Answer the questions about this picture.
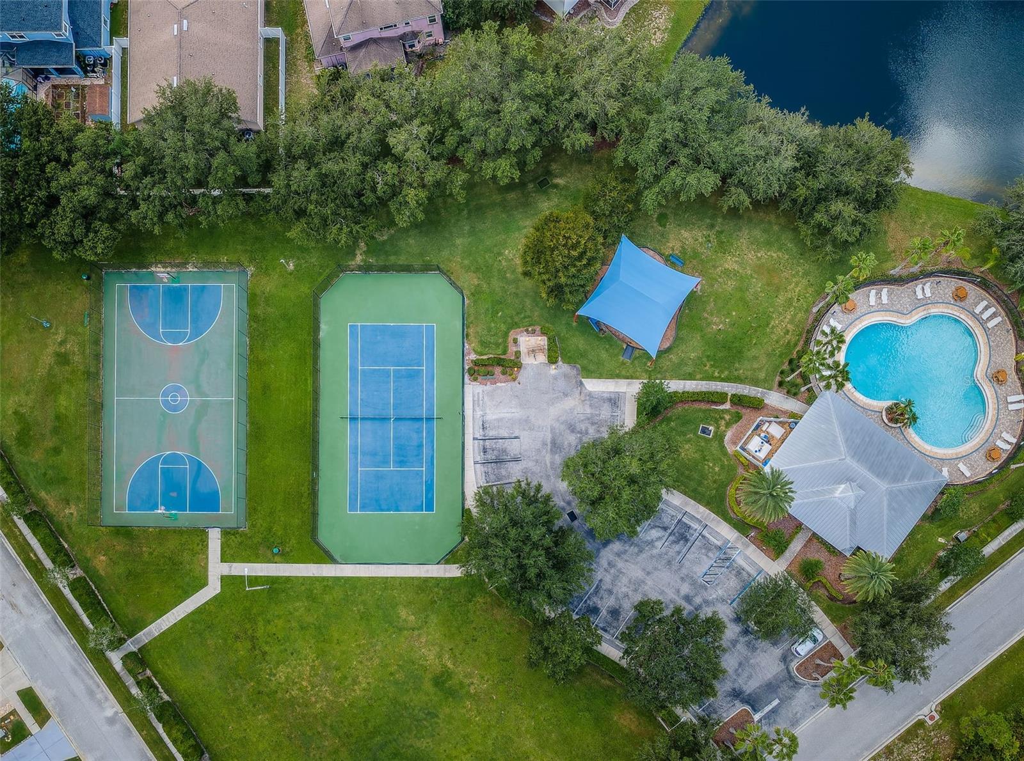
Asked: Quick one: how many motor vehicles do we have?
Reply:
1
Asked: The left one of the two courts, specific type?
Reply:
basketball court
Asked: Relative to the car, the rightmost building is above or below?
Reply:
above it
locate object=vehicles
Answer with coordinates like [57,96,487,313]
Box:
[792,628,826,659]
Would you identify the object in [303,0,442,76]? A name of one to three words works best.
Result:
house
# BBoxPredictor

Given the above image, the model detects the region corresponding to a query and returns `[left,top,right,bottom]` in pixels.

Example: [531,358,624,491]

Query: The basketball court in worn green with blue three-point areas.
[101,271,248,527]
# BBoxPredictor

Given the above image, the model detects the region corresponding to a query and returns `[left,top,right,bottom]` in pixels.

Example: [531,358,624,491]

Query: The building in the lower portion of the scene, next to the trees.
[766,390,947,558]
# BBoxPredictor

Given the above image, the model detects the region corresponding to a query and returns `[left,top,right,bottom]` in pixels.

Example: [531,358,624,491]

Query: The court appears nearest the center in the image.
[317,273,462,564]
